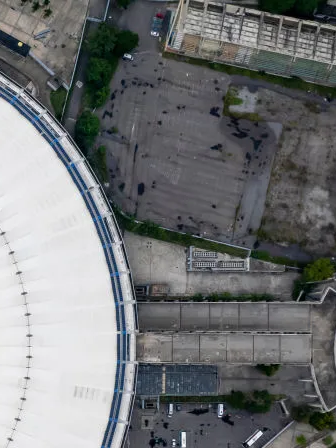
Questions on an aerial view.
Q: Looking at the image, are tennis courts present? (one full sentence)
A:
No, this view has no tennis court in it.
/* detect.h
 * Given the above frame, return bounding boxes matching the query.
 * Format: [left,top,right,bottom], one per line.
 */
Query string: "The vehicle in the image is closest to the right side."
[244,429,264,446]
